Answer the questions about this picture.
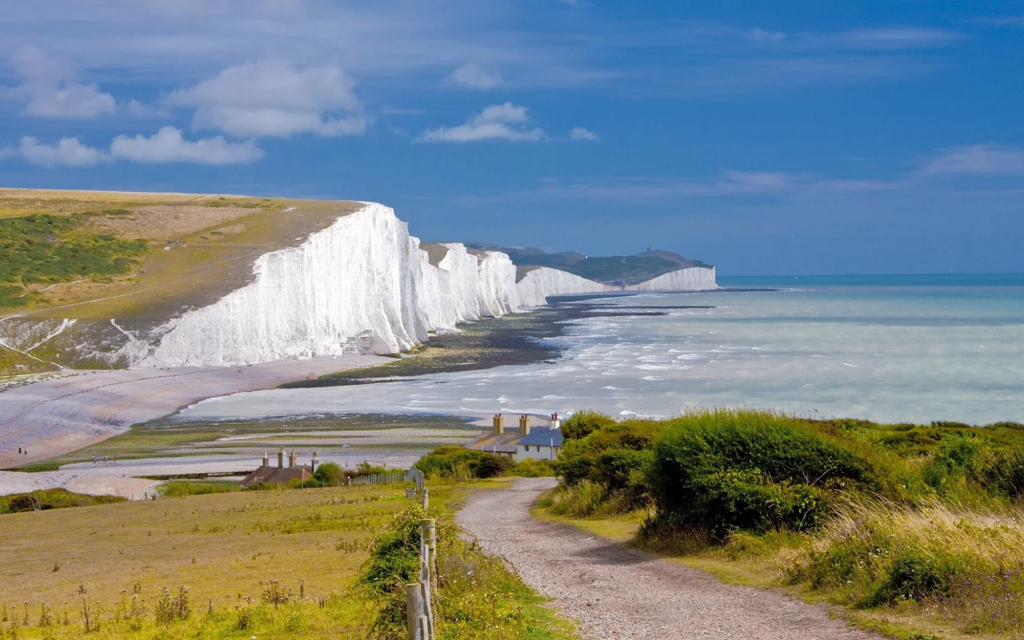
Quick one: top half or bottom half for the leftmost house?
bottom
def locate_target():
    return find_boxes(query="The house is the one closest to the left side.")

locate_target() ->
[243,448,322,493]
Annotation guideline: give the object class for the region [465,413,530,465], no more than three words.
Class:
house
